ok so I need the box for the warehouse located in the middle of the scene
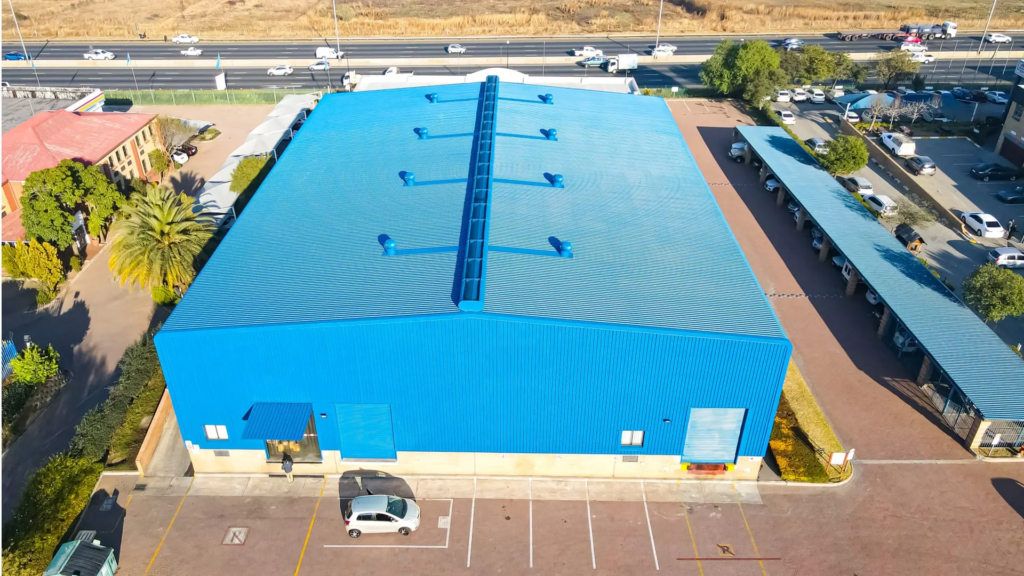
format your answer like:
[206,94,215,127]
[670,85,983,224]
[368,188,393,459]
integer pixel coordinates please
[154,73,792,478]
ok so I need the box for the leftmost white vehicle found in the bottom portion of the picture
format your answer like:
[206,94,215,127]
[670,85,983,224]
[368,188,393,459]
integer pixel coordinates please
[340,490,420,534]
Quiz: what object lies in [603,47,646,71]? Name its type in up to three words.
truck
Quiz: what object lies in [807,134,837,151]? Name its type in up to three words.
car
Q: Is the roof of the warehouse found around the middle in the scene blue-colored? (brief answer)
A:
Yes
